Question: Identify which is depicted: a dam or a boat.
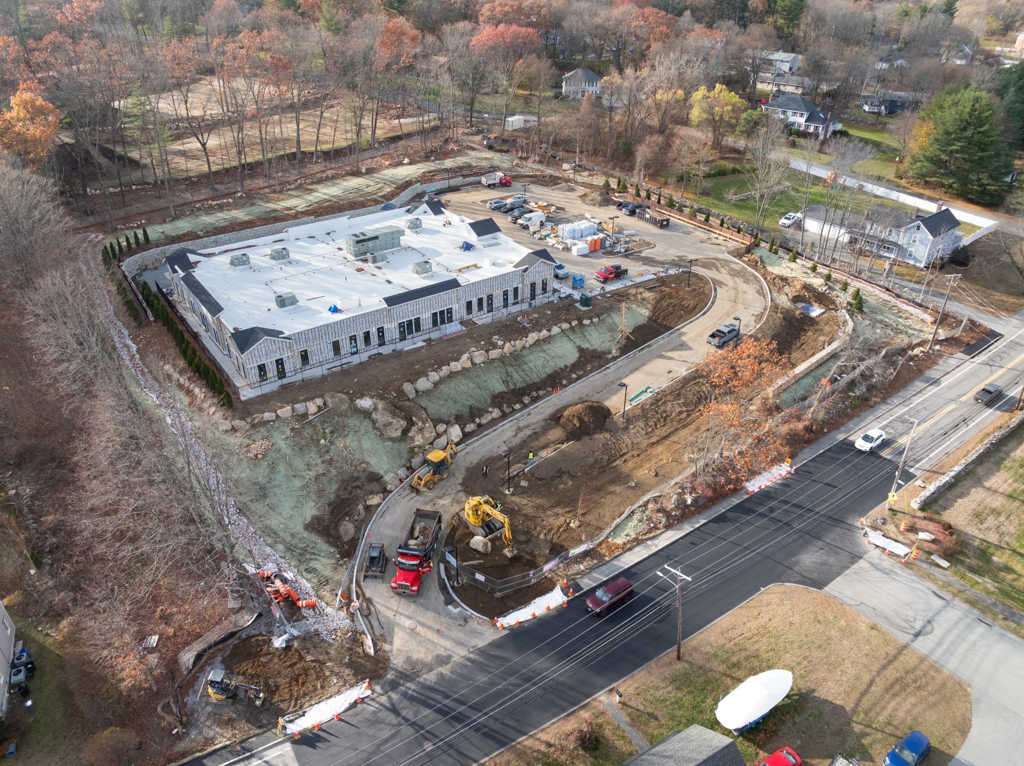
boat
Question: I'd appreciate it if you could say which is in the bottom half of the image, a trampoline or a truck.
truck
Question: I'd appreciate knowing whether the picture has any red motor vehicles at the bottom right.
Yes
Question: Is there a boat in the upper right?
No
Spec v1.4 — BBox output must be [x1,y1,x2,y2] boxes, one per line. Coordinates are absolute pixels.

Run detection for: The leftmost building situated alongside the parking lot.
[175,194,559,388]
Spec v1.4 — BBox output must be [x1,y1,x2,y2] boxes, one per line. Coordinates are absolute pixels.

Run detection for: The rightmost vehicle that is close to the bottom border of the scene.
[886,716,936,766]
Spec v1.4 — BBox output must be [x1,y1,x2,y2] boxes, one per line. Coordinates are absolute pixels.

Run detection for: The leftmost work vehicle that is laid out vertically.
[362,537,386,582]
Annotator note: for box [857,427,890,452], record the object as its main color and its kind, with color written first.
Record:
white car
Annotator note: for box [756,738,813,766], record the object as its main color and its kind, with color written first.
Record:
red car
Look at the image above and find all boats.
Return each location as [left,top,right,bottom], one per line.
[710,672,788,735]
